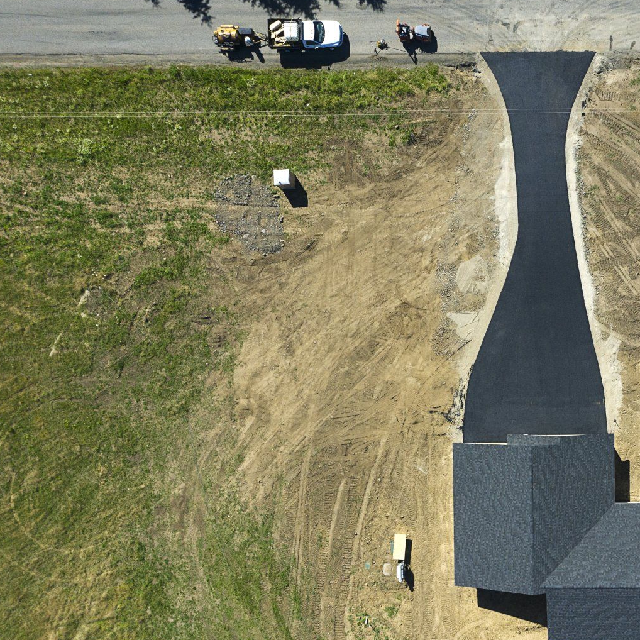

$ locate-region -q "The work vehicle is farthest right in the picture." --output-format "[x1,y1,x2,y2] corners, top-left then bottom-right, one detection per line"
[398,21,435,48]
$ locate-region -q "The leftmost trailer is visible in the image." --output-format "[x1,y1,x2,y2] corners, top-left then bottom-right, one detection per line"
[215,26,266,54]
